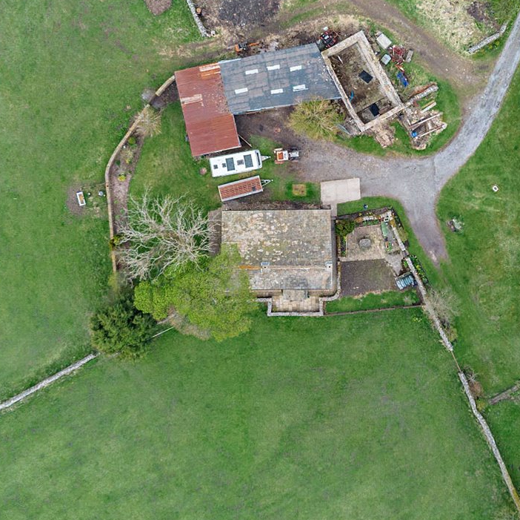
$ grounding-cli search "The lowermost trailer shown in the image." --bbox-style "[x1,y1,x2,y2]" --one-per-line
[218,174,269,203]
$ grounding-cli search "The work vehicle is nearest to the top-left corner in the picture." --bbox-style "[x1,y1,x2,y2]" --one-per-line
[234,42,263,56]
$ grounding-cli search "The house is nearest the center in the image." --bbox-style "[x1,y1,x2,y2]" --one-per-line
[219,207,335,301]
